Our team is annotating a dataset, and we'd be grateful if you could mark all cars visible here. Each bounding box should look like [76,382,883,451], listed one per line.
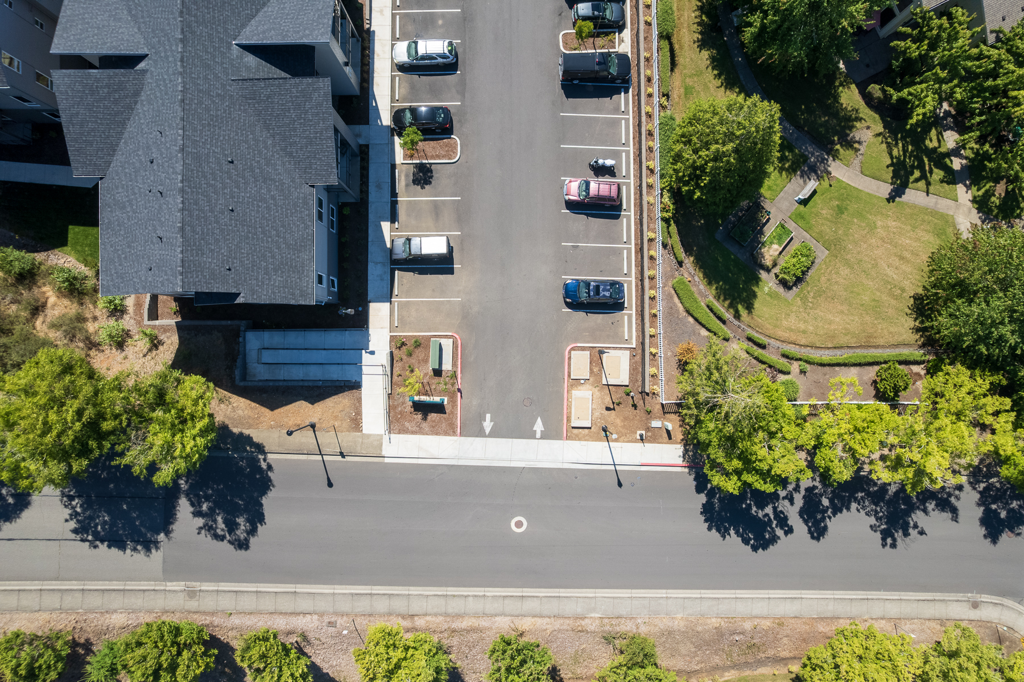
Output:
[393,37,457,68]
[562,277,624,305]
[389,234,453,262]
[561,176,622,206]
[571,0,625,29]
[392,103,452,133]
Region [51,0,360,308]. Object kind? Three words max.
building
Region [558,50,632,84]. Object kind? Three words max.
truck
